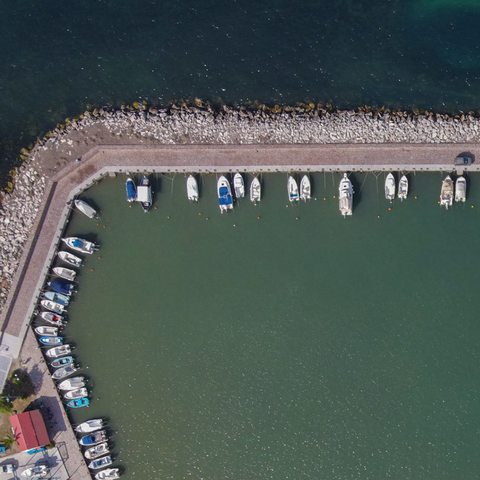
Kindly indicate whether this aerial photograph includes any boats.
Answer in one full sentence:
Yes, there's a boat here.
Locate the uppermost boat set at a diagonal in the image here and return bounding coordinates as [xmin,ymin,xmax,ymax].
[74,200,96,219]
